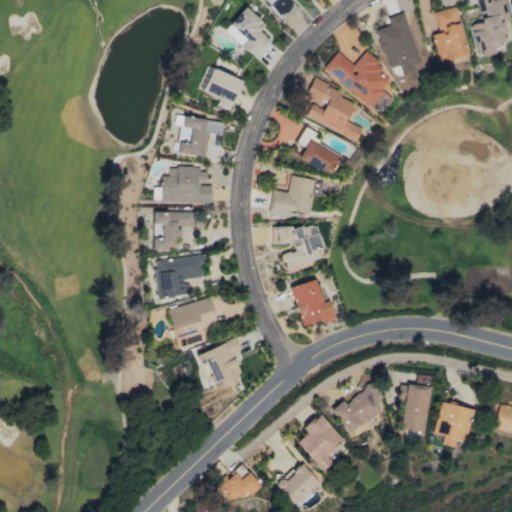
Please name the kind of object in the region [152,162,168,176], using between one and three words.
swimming pool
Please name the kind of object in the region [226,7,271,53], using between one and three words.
house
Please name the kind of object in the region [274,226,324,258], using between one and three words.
house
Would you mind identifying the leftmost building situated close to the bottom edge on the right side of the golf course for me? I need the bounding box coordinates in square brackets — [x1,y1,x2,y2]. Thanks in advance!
[218,464,263,500]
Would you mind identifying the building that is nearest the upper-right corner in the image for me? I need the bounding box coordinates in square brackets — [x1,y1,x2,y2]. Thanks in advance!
[472,0,511,57]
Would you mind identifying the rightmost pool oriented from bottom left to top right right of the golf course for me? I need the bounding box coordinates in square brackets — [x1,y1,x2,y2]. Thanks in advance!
[302,492,322,508]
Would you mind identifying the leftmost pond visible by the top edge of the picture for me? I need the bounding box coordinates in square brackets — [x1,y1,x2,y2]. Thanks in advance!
[96,8,188,144]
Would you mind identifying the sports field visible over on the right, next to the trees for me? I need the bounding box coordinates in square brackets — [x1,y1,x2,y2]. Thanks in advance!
[404,109,512,220]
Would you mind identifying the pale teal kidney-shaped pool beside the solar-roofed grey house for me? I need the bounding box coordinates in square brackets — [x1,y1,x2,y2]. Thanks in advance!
[214,34,236,52]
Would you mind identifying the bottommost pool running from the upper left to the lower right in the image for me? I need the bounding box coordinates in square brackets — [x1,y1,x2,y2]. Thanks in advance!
[328,137,348,154]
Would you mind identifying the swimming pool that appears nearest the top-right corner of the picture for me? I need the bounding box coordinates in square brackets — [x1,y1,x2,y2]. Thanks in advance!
[352,113,374,132]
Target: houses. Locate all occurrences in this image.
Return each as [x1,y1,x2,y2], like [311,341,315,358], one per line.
[378,10,422,76]
[198,338,243,388]
[300,415,345,470]
[200,66,244,104]
[174,114,224,156]
[270,0,298,16]
[270,175,316,217]
[400,374,433,438]
[293,280,338,327]
[154,212,194,252]
[334,384,384,436]
[156,254,206,298]
[218,464,263,500]
[306,80,364,143]
[326,50,393,112]
[274,226,324,258]
[278,464,321,507]
[226,7,271,53]
[472,0,511,57]
[298,126,344,174]
[433,6,470,62]
[436,403,476,448]
[498,404,512,436]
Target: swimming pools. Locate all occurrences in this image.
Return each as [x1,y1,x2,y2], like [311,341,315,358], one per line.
[352,113,374,132]
[214,34,236,52]
[302,492,322,508]
[152,162,168,176]
[155,320,166,339]
[328,137,348,154]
